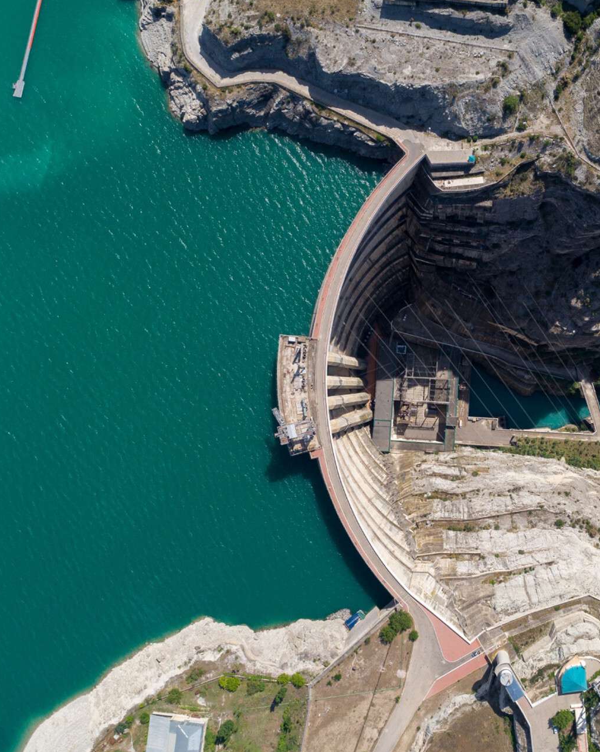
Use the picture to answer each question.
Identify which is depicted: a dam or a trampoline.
dam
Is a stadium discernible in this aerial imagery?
No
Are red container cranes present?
No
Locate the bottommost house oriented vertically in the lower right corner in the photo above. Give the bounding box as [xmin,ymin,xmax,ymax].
[570,704,586,735]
